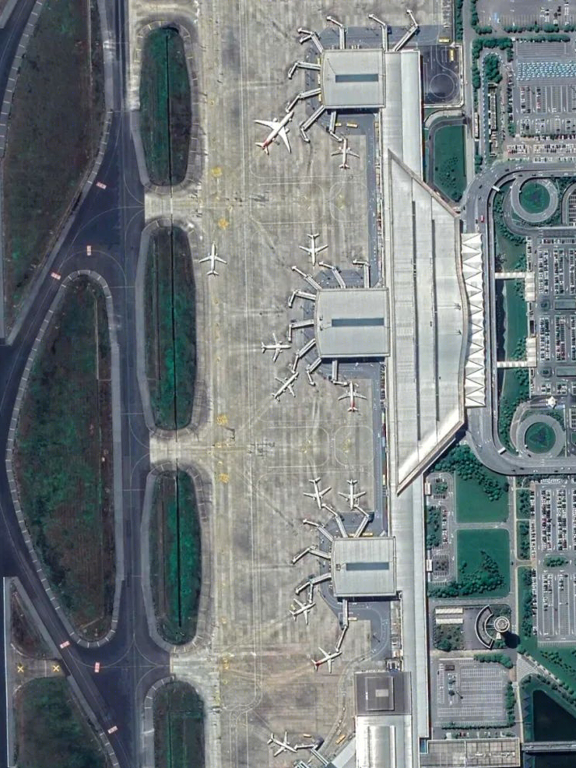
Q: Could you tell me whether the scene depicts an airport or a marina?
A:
airport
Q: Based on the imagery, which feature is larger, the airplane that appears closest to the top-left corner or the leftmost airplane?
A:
the airplane that appears closest to the top-left corner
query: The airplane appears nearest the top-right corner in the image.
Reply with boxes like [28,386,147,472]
[330,137,359,168]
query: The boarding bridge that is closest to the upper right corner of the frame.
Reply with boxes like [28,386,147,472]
[394,7,419,49]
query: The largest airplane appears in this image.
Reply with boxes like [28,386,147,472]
[253,112,292,155]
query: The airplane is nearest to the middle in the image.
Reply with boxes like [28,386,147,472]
[270,372,298,400]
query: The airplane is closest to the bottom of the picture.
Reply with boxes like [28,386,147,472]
[268,734,295,758]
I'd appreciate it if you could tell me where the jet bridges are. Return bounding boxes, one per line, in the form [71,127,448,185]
[291,546,332,564]
[284,87,320,113]
[286,61,320,78]
[287,321,313,343]
[351,259,368,287]
[394,7,419,49]
[353,503,370,537]
[291,339,316,374]
[302,519,333,541]
[293,574,332,604]
[332,358,349,386]
[328,109,343,142]
[290,265,323,288]
[295,27,323,52]
[326,14,344,49]
[334,598,347,652]
[304,358,323,387]
[287,289,316,308]
[300,105,325,143]
[320,502,346,537]
[367,11,386,49]
[318,259,345,288]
